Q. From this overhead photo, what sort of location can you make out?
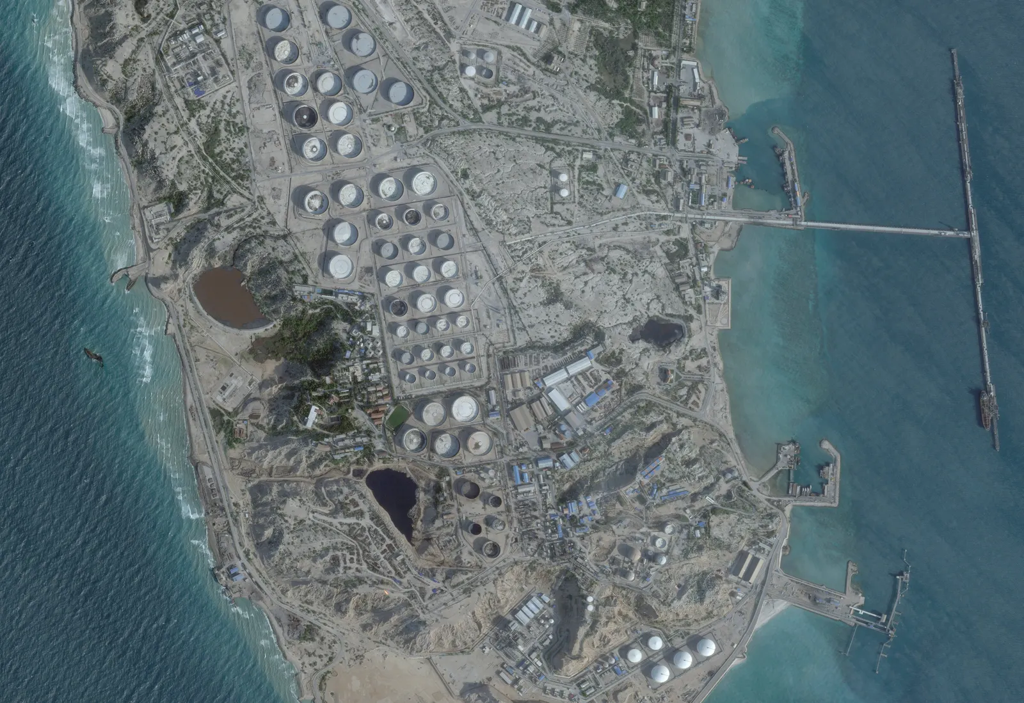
port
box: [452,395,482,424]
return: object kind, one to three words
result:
storage tank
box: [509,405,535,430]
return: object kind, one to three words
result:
building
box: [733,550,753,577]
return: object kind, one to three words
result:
building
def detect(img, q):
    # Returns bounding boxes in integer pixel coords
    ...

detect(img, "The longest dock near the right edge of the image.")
[952,49,1000,450]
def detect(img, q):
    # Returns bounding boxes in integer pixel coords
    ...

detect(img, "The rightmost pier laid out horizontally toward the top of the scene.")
[802,220,972,238]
